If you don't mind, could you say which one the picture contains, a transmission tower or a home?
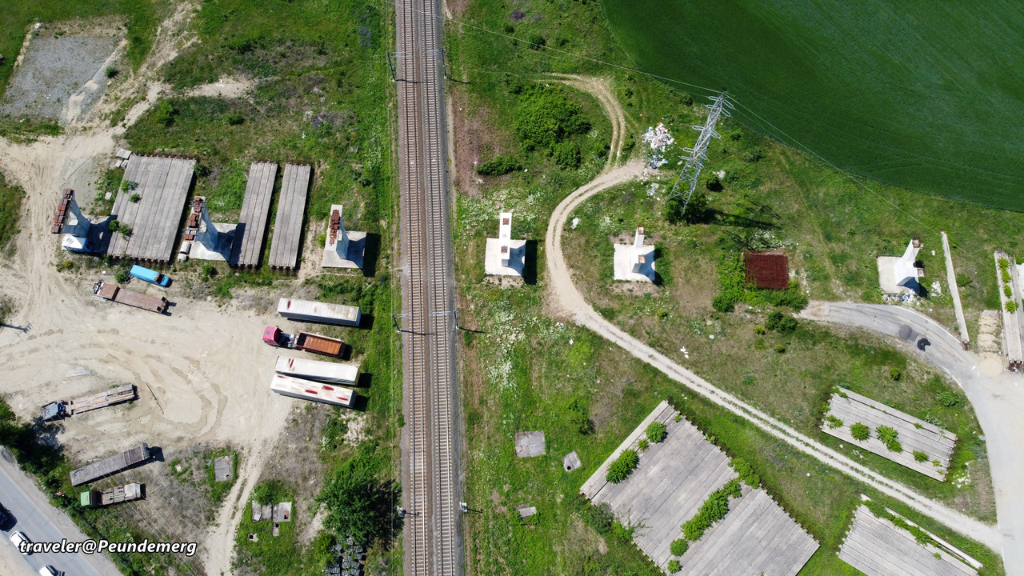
transmission tower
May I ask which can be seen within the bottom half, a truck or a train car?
truck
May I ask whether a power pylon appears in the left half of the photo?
No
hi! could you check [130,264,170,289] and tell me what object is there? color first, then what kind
blue vehicle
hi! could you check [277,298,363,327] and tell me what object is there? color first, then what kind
white trailer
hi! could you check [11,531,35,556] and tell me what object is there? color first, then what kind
white car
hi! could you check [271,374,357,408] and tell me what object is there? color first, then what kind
white trailer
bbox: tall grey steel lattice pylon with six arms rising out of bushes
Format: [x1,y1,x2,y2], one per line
[660,97,737,225]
